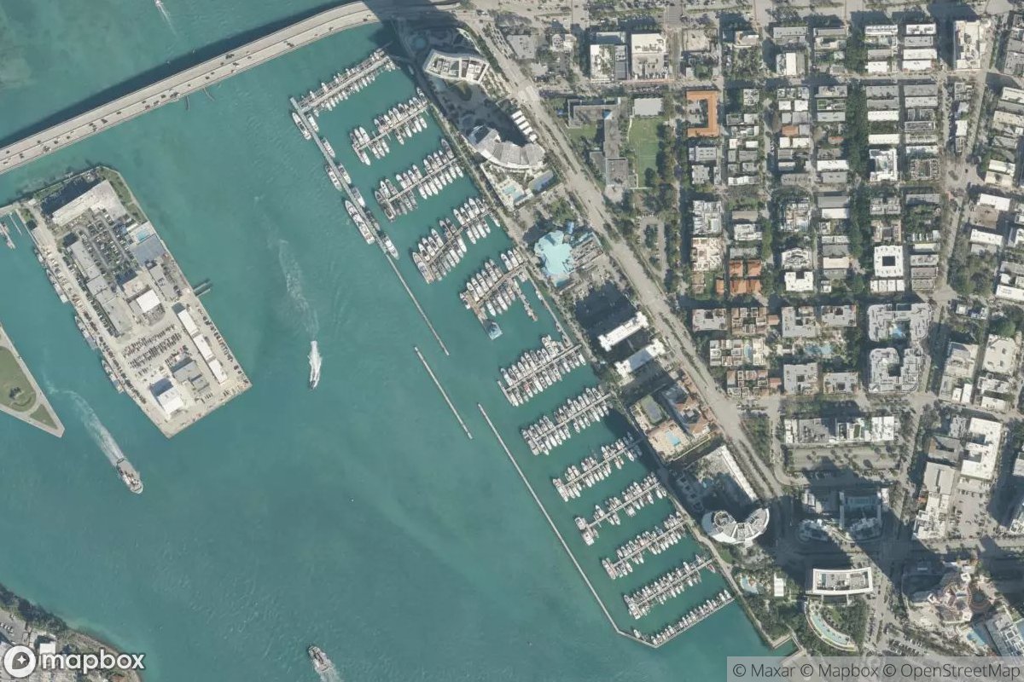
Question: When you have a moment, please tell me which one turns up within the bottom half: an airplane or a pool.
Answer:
pool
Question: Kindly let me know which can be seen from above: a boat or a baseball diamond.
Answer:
boat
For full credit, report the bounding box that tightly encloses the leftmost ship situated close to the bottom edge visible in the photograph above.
[309,645,329,672]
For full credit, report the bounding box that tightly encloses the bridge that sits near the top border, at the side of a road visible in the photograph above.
[0,0,381,170]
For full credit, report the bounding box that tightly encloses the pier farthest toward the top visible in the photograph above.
[301,51,391,111]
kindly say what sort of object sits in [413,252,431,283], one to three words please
boat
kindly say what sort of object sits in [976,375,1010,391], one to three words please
building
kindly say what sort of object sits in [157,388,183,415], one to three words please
hangar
